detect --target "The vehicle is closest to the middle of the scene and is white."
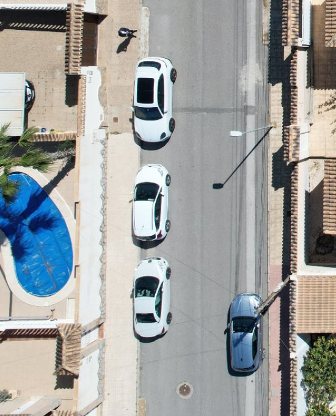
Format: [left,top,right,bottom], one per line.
[131,164,174,240]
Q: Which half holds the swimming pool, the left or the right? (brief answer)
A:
left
